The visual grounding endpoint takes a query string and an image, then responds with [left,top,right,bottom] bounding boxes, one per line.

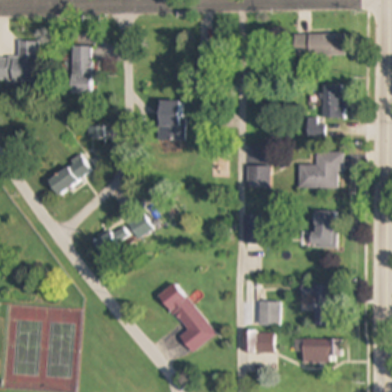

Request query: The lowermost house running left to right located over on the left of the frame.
[99,216,153,242]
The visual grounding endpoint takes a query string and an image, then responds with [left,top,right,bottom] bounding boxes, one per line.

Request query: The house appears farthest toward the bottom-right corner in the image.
[296,338,346,369]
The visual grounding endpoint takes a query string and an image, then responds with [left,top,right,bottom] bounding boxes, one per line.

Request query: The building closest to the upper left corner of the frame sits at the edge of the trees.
[0,40,42,82]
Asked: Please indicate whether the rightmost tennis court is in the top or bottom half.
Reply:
bottom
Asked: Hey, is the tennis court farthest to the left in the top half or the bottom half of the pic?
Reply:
bottom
